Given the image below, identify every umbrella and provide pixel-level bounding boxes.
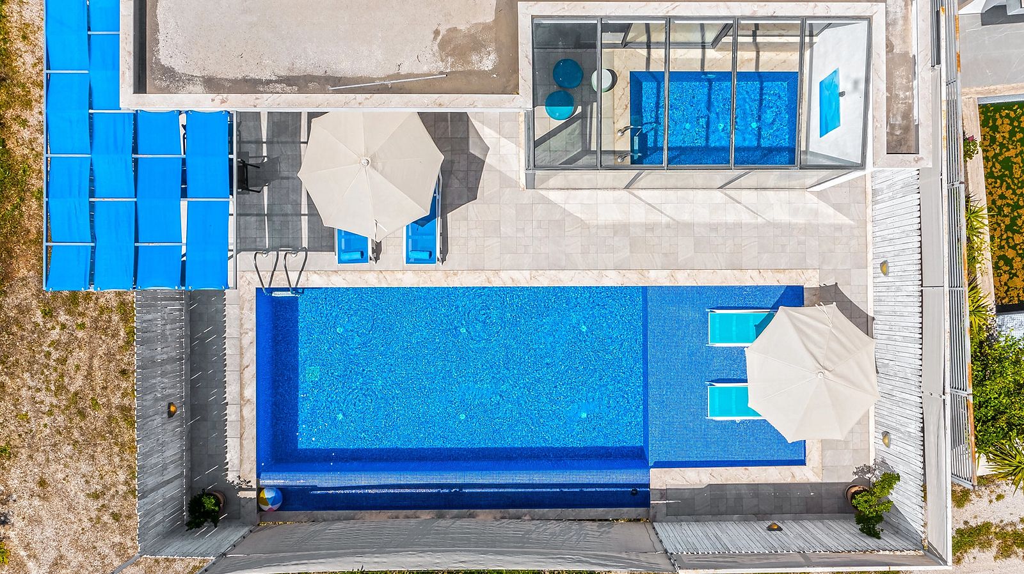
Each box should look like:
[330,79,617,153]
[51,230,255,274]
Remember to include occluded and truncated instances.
[745,302,880,442]
[297,115,445,242]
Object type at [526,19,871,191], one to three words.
greenhouse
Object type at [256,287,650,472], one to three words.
swimming pool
